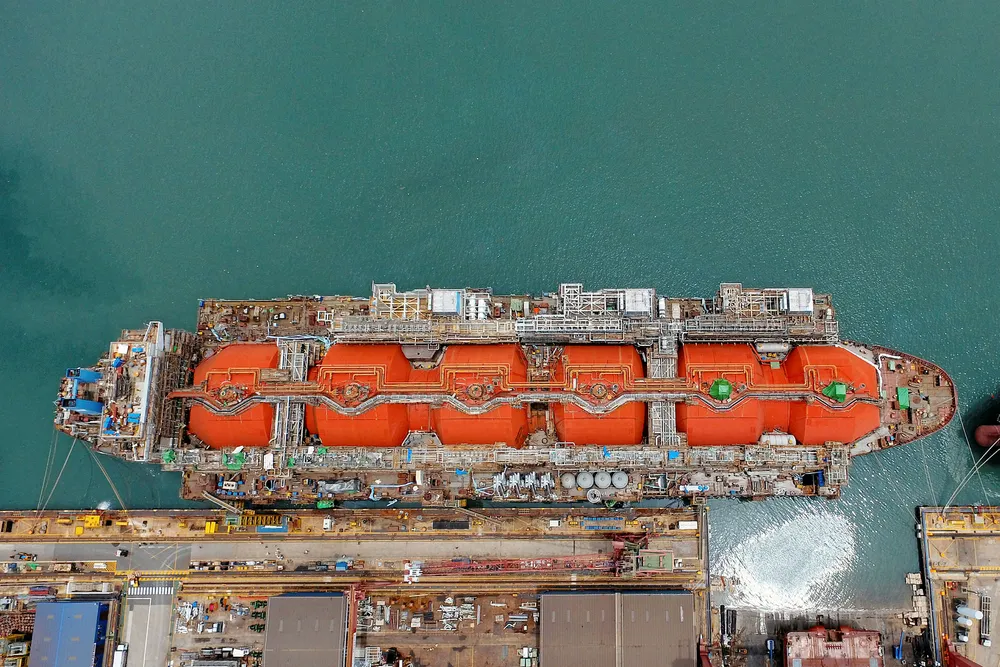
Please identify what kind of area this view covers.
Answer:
port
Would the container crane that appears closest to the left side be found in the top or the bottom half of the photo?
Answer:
bottom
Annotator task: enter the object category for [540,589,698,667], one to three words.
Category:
building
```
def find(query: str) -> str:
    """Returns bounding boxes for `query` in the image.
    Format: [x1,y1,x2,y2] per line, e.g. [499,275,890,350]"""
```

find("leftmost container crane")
[341,579,404,667]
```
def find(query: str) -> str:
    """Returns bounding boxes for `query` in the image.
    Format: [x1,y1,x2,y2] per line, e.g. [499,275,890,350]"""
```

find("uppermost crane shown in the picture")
[403,534,674,584]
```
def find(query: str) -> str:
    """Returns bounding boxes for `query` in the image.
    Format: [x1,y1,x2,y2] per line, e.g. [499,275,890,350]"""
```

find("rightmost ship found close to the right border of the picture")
[974,425,1000,448]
